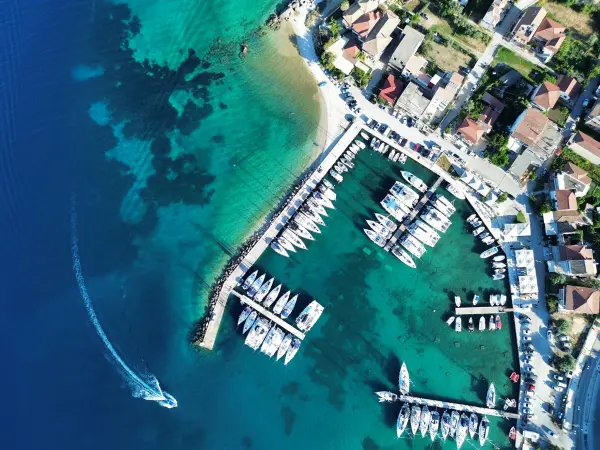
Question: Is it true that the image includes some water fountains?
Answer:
No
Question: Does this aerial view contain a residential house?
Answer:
Yes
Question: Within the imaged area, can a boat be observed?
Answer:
Yes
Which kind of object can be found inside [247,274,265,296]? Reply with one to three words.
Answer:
boat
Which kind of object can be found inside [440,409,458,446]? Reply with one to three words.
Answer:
boat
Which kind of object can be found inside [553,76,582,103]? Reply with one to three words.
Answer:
house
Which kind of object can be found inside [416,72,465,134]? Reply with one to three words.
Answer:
house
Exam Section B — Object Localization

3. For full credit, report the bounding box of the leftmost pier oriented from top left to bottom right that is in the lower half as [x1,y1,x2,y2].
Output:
[231,288,305,339]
